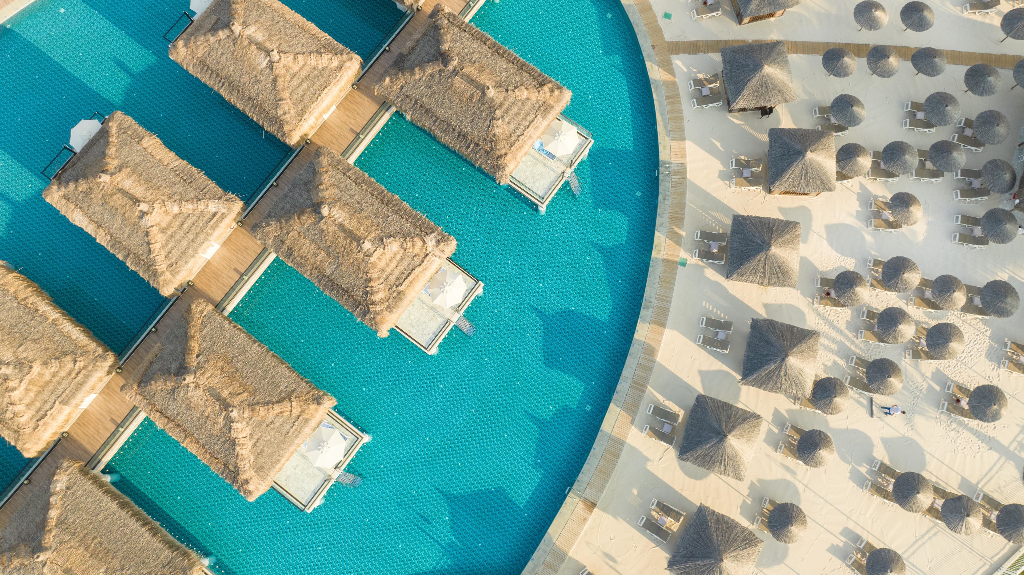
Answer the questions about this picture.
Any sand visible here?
Yes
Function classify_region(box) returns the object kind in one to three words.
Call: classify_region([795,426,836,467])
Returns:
umbrella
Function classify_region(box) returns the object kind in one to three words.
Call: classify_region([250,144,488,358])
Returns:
house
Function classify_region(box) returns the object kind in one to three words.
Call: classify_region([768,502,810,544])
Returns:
umbrella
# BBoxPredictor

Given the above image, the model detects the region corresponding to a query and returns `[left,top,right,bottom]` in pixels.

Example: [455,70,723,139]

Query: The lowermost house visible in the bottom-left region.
[0,449,221,575]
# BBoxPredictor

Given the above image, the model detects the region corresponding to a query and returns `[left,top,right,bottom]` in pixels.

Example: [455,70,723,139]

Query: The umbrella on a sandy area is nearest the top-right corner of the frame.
[1001,5,1024,38]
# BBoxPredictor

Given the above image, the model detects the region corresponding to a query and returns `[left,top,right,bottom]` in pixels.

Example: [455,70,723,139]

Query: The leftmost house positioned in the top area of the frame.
[43,110,252,301]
